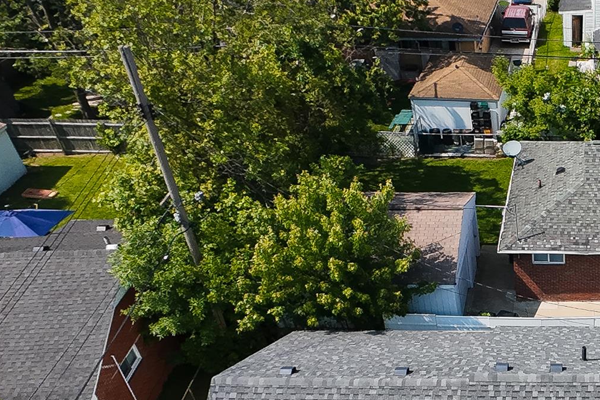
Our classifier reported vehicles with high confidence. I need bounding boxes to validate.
[502,6,533,39]
[512,0,536,13]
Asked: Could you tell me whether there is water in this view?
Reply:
No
